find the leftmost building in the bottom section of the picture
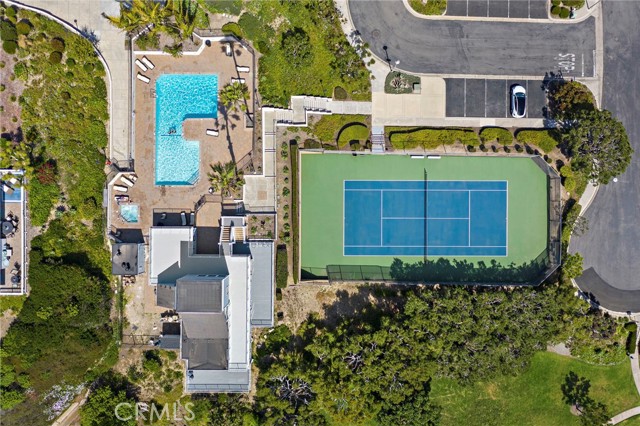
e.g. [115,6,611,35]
[113,244,144,275]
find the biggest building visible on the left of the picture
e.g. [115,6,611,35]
[149,198,275,391]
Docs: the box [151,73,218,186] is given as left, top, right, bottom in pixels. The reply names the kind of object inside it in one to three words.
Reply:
swimming pool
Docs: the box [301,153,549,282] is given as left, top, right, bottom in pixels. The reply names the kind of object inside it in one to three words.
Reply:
tennis court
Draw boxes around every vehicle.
[509,85,527,117]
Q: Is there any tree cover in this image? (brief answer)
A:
Yes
